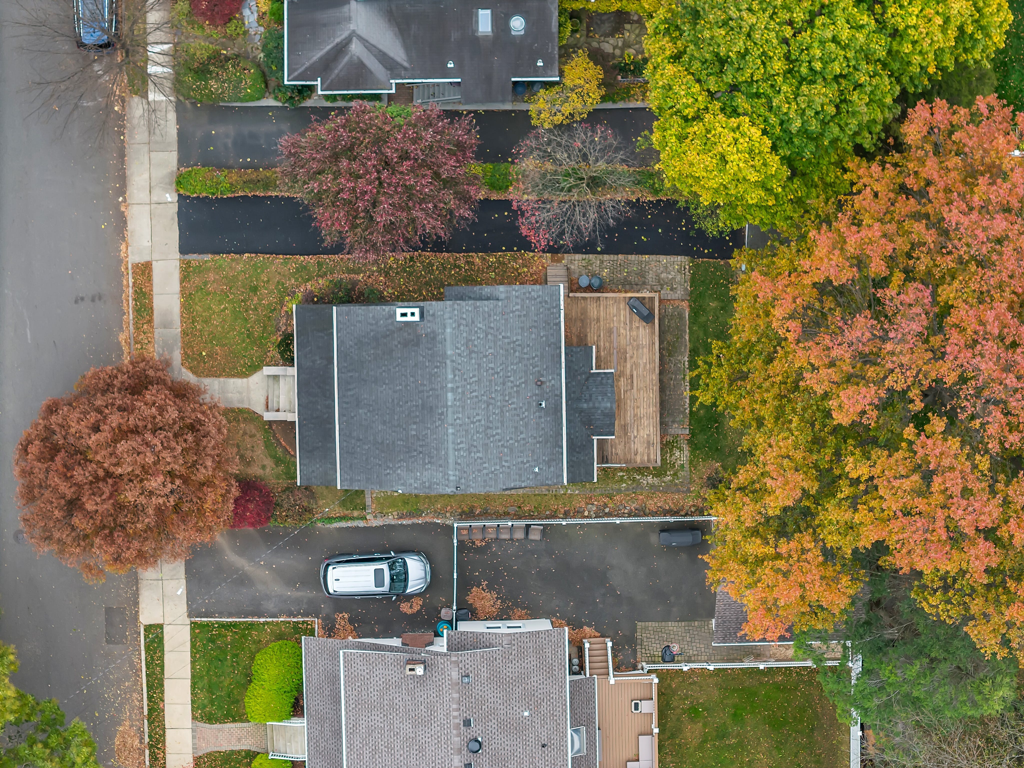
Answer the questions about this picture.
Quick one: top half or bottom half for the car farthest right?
bottom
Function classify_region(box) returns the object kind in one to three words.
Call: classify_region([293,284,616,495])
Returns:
house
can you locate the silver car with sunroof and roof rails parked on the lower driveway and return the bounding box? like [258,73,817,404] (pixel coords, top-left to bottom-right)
[321,550,432,602]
